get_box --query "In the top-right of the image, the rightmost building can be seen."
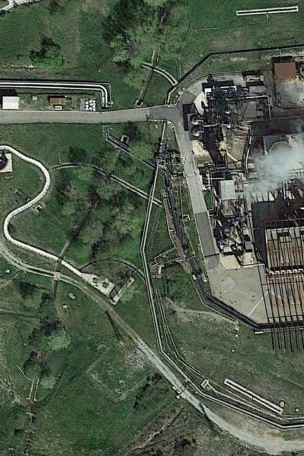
[275,62,297,81]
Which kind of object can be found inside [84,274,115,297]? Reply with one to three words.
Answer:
building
